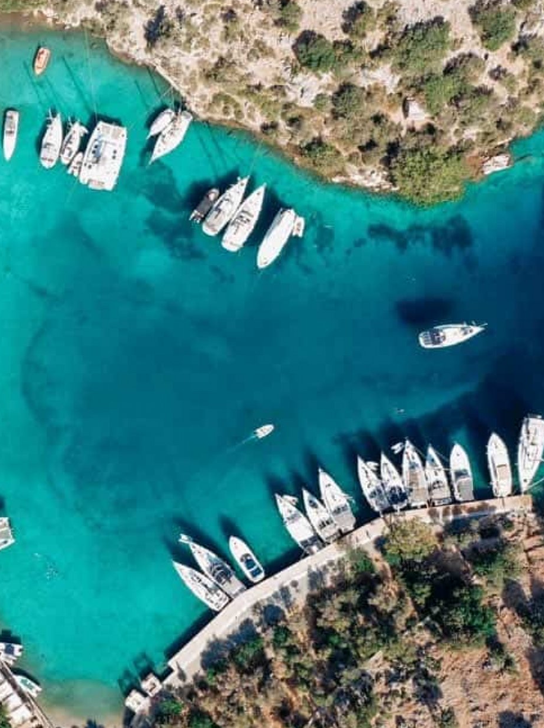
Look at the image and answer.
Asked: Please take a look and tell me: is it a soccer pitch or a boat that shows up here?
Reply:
boat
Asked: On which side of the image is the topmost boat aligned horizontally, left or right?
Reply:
right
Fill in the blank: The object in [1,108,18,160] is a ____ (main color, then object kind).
white boat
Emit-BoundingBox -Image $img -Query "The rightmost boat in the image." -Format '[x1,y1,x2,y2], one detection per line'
[513,414,544,494]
